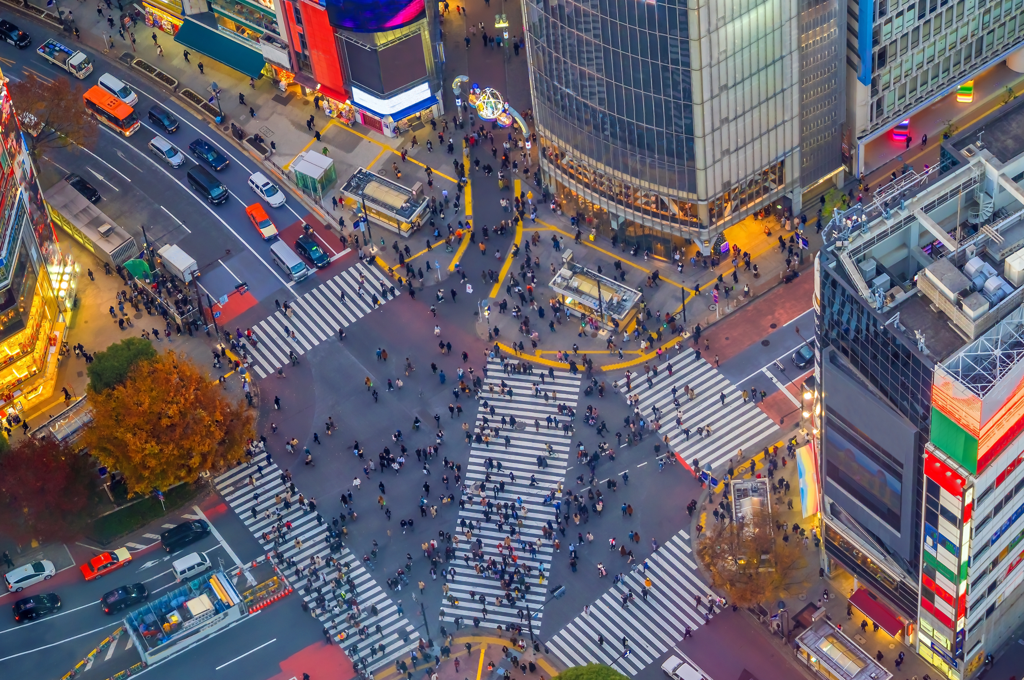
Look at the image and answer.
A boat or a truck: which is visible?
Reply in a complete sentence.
It is a truck that can be seen here.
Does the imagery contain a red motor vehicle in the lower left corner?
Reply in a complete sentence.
Yes, a red motor vehicle appears in the lower left corner.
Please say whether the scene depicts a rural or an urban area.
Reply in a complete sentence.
This place is urban.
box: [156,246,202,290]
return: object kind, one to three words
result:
truck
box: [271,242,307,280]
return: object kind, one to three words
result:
van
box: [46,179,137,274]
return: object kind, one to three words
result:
shed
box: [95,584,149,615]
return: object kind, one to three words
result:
car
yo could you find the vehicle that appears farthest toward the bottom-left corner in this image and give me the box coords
[6,592,60,623]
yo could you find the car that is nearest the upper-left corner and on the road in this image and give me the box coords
[0,15,31,47]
